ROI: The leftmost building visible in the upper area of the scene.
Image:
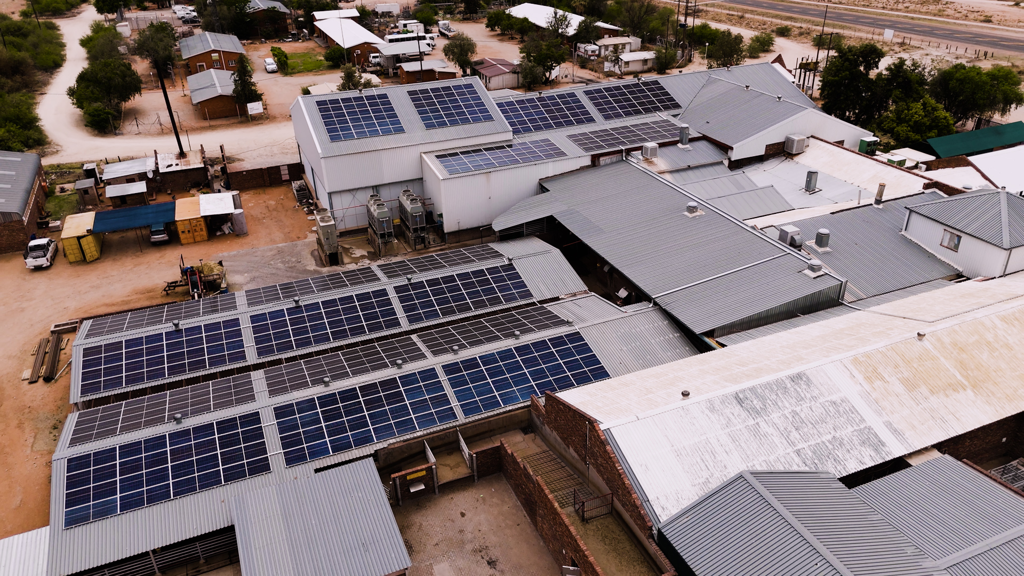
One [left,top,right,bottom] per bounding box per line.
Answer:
[0,152,52,255]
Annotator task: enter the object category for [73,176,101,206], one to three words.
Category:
shed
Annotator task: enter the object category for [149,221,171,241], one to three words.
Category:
car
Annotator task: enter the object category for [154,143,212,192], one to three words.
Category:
house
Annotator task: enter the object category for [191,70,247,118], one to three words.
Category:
house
